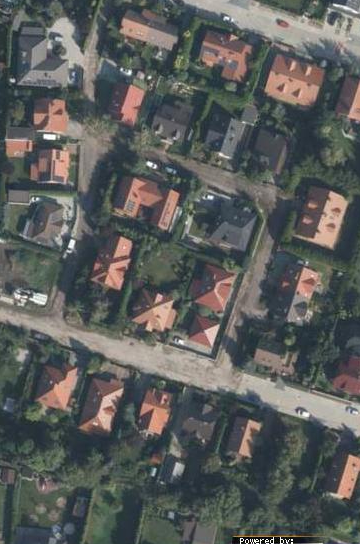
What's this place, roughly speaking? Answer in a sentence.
The area seen from above is a residential area.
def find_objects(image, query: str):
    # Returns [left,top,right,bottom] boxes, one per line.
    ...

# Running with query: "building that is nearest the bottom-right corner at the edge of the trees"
[323,453,360,500]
